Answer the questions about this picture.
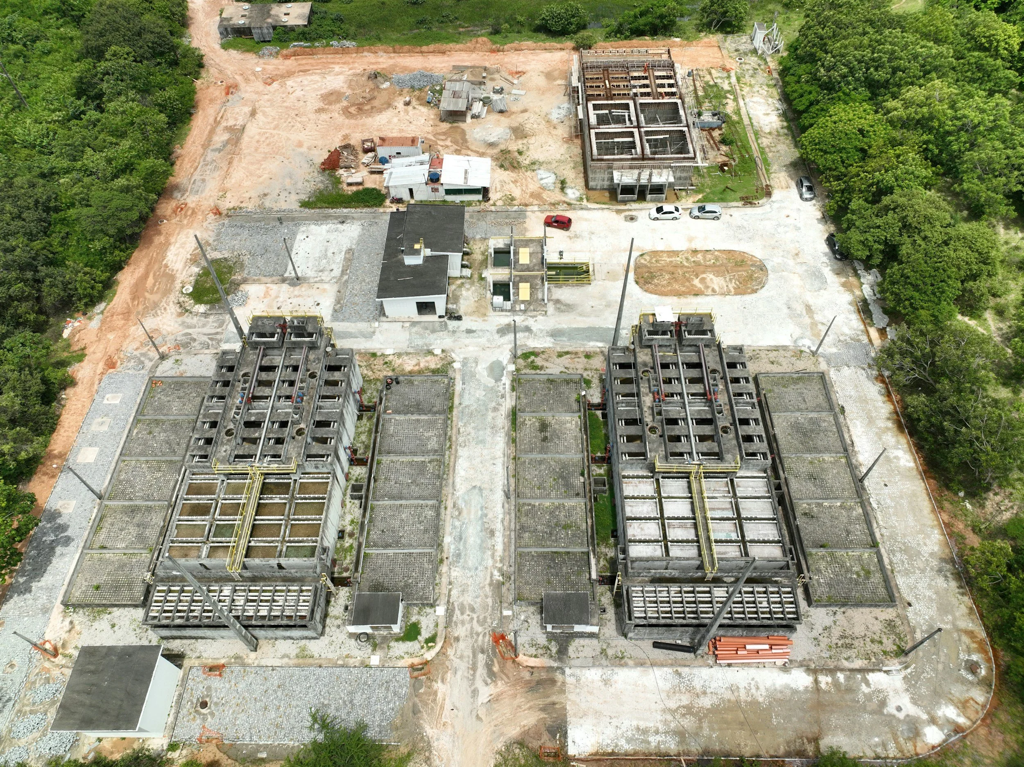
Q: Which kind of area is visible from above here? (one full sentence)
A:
This image shows an industrial area.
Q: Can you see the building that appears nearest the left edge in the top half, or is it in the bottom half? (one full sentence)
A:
You can find the building that appears nearest the left edge in the bottom half.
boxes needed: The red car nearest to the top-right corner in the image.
[543,212,573,230]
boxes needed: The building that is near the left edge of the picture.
[51,645,181,737]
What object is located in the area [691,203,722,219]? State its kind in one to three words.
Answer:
car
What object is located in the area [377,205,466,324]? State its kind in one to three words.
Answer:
building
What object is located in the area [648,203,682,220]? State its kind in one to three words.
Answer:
car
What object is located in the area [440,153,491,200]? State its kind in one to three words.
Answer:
building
